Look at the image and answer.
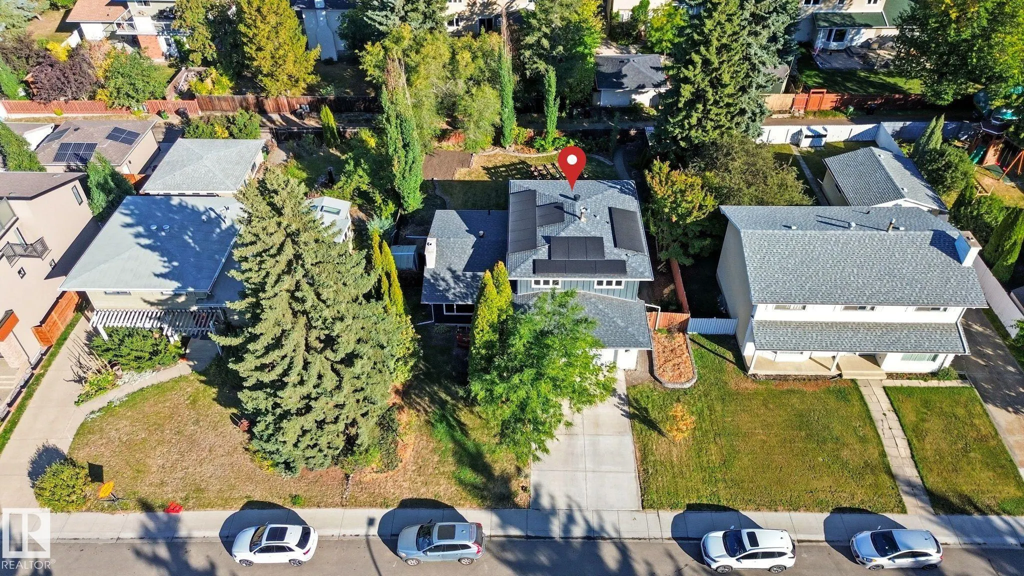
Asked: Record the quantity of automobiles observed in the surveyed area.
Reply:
4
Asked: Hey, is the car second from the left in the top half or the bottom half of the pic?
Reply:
bottom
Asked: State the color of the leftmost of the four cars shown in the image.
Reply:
white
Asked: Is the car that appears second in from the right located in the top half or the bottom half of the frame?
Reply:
bottom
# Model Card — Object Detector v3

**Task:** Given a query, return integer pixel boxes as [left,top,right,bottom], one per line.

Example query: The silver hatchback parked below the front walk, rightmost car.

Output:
[854,524,949,570]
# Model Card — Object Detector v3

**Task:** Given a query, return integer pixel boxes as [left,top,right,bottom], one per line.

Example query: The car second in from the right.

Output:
[702,523,799,573]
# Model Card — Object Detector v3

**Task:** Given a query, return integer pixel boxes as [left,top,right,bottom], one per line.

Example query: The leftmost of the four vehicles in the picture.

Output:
[228,519,320,566]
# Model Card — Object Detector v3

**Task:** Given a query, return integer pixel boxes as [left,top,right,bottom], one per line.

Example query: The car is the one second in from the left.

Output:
[395,517,487,566]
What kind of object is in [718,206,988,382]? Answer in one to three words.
house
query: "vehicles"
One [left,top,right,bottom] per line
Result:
[702,523,799,573]
[228,519,320,566]
[395,517,487,566]
[854,524,949,570]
